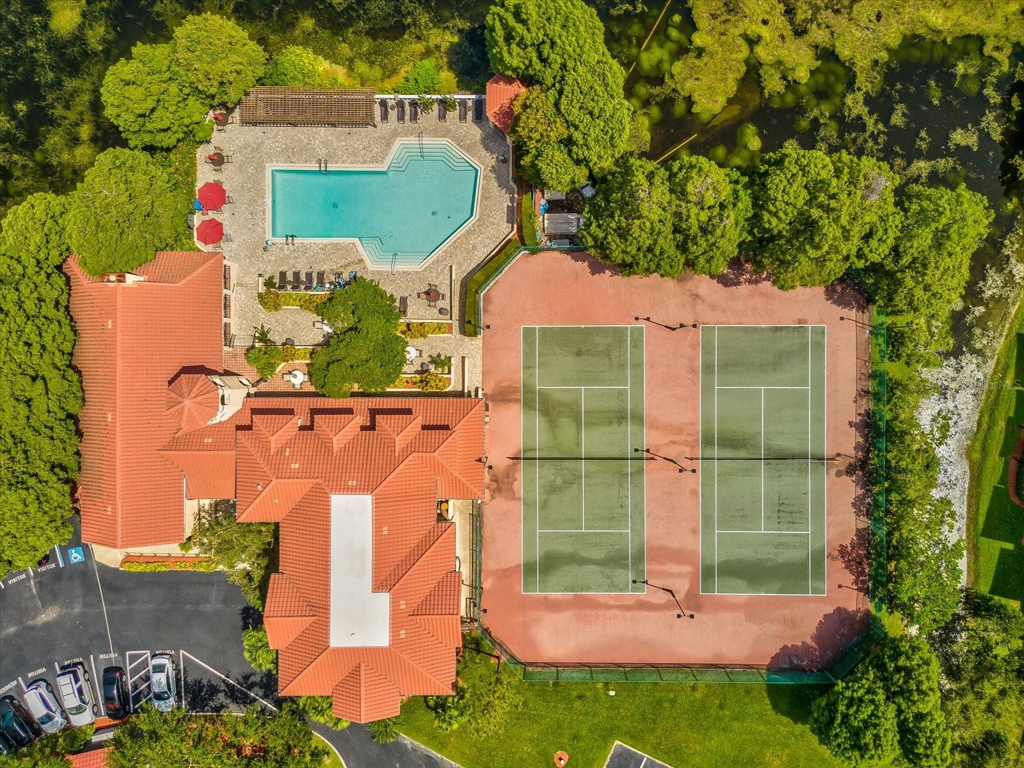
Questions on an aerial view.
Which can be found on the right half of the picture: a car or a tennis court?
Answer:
tennis court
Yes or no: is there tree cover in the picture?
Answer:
Yes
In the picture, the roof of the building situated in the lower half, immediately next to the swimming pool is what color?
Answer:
orange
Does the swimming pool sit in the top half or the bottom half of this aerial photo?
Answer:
top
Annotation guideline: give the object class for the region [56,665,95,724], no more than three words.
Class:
car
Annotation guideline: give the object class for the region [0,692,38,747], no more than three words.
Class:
car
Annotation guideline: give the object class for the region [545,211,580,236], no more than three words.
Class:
shed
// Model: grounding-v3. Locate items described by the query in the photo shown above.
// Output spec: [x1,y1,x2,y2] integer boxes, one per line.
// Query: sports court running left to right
[602,742,675,768]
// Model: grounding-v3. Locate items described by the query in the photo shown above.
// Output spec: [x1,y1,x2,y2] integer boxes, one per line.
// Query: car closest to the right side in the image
[149,655,178,710]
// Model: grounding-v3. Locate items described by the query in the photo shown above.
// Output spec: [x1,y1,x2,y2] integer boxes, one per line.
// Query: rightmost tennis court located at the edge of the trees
[693,325,842,595]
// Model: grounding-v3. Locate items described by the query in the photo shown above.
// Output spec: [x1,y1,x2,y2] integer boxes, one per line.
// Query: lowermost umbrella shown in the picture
[196,218,223,245]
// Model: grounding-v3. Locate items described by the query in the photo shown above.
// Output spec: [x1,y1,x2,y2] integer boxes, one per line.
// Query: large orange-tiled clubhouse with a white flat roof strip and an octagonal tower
[58,250,486,724]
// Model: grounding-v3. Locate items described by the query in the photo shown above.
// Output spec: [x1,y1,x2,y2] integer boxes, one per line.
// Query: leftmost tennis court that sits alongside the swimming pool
[513,325,656,594]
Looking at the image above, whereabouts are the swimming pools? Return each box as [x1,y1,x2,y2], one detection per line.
[265,137,483,270]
